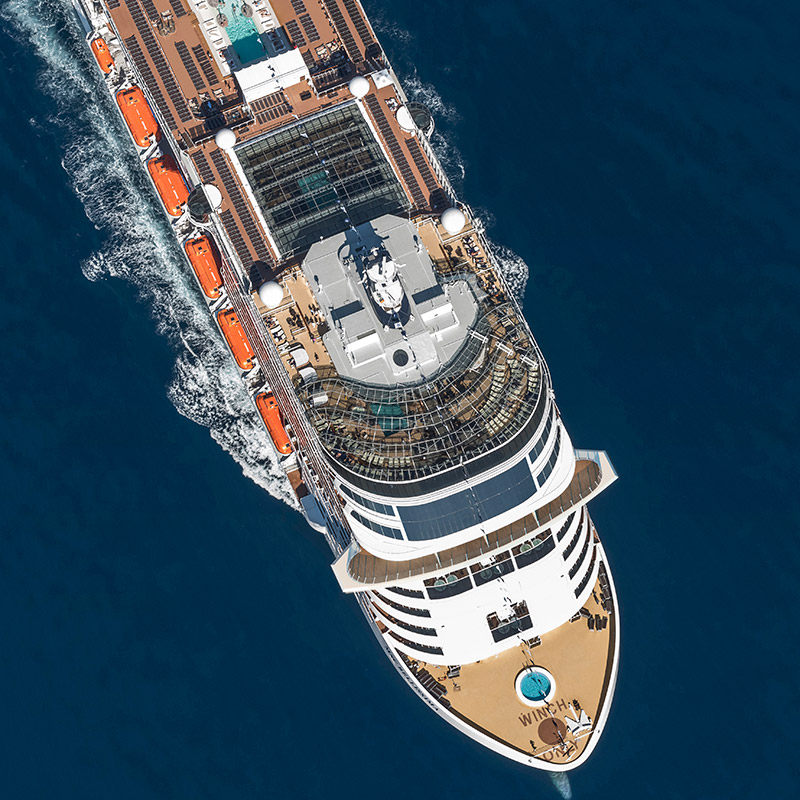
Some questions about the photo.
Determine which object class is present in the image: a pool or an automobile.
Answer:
pool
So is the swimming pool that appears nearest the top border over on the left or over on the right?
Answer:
left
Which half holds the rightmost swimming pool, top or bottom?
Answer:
bottom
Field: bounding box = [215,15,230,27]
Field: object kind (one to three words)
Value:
umbrella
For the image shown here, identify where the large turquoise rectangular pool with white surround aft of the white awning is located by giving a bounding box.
[186,0,295,96]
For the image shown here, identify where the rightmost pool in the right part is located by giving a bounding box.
[516,667,555,706]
